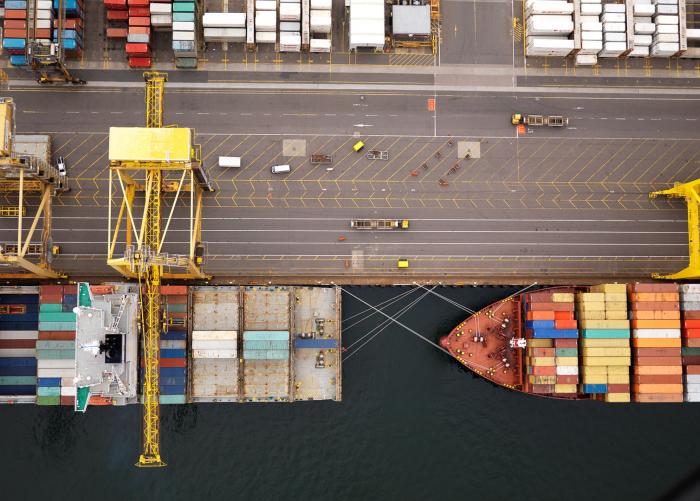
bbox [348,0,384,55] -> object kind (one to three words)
shed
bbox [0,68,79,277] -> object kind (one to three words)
container crane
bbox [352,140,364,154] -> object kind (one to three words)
vehicle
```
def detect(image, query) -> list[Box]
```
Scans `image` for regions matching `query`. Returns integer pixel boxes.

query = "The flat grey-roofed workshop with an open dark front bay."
[388,4,431,46]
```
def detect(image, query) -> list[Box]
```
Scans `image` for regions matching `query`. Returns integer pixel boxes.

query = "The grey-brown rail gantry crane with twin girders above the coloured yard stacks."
[21,0,88,81]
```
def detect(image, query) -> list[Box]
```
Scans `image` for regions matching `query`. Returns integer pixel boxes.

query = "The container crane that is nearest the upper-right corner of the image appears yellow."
[647,176,700,278]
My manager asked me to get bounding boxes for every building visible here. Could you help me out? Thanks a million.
[348,0,384,55]
[388,4,431,46]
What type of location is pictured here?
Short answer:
port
